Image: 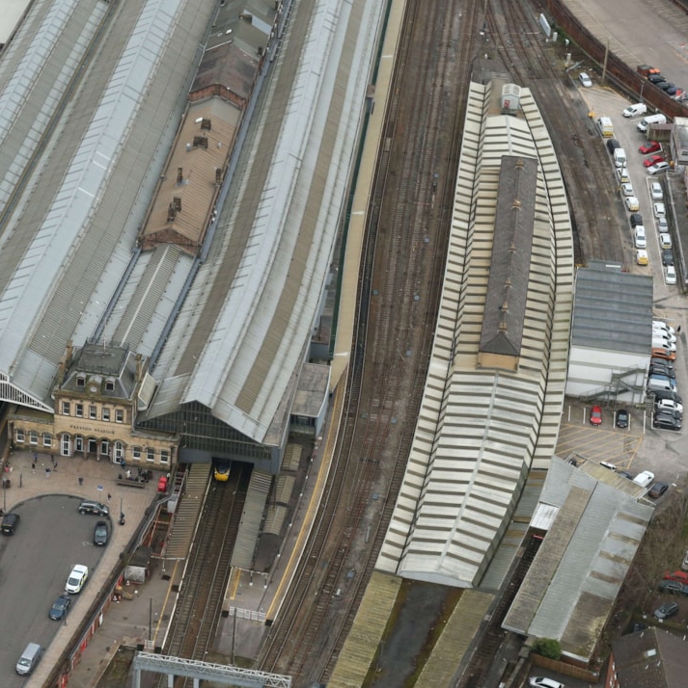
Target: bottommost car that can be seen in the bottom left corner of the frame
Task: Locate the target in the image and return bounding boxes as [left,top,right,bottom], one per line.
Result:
[18,645,39,673]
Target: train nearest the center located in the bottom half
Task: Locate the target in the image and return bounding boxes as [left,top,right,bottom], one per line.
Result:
[214,459,235,480]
